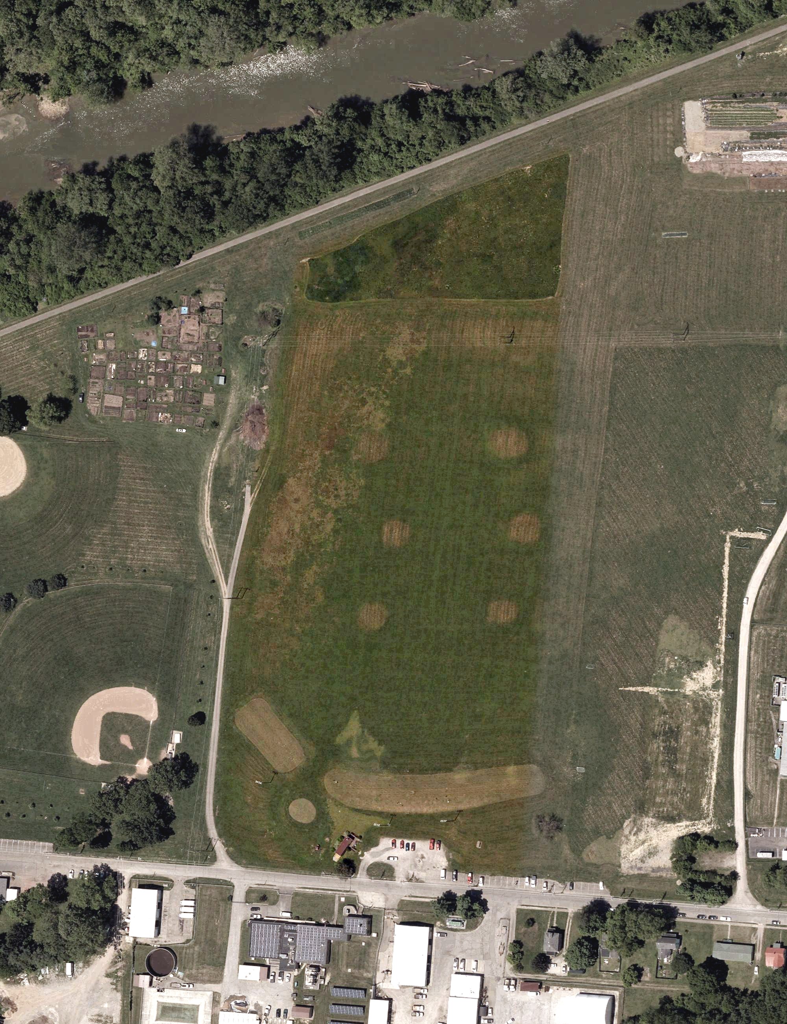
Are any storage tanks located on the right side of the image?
No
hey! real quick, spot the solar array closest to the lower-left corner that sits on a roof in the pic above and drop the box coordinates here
[251,923,280,957]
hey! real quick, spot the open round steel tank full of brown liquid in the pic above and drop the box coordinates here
[145,947,178,977]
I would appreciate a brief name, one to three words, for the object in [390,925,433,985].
building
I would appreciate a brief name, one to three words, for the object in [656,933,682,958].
house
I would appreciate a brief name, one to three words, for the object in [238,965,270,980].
building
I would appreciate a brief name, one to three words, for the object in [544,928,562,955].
house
